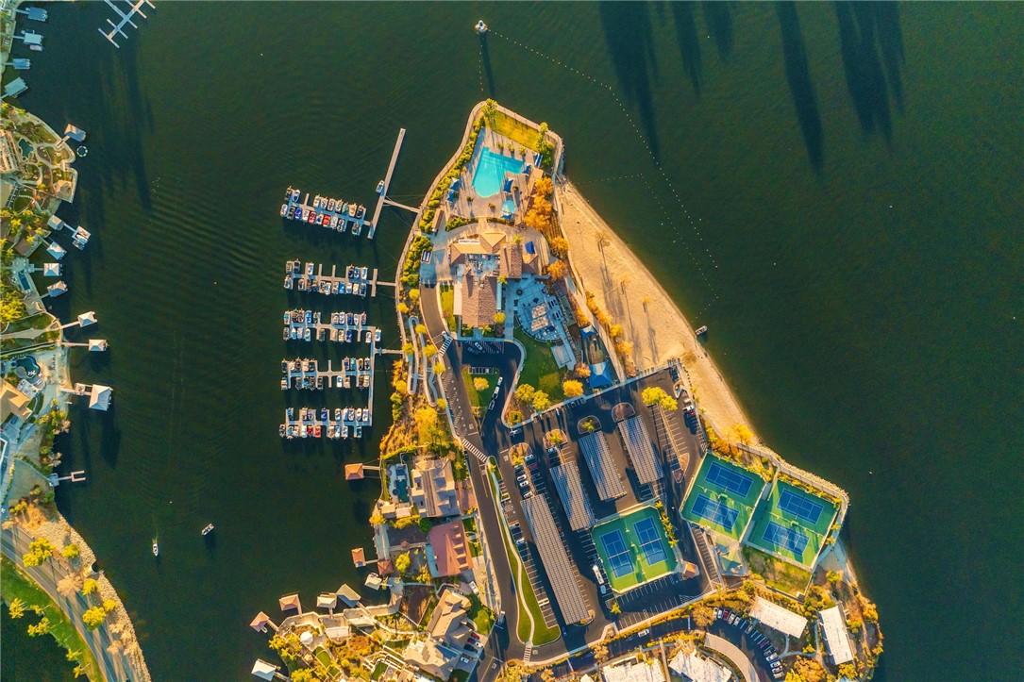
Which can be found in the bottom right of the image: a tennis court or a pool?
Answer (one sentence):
The feature located in the bottom right of the image is a tennis court.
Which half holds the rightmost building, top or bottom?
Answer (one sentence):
The rightmost building is in the bottom half of the image.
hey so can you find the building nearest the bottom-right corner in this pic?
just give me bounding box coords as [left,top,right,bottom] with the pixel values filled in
[814,605,853,665]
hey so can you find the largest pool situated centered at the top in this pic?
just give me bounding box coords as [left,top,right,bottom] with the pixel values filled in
[472,147,523,198]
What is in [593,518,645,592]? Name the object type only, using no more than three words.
tennis court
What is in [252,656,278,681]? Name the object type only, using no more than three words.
building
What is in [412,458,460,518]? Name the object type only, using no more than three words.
house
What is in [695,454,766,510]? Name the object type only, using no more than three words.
tennis court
